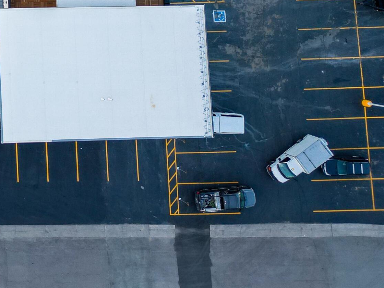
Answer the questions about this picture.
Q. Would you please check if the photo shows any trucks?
Yes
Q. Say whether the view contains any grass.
No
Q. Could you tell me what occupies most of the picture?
paved ground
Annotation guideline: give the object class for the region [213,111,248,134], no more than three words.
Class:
vehicle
